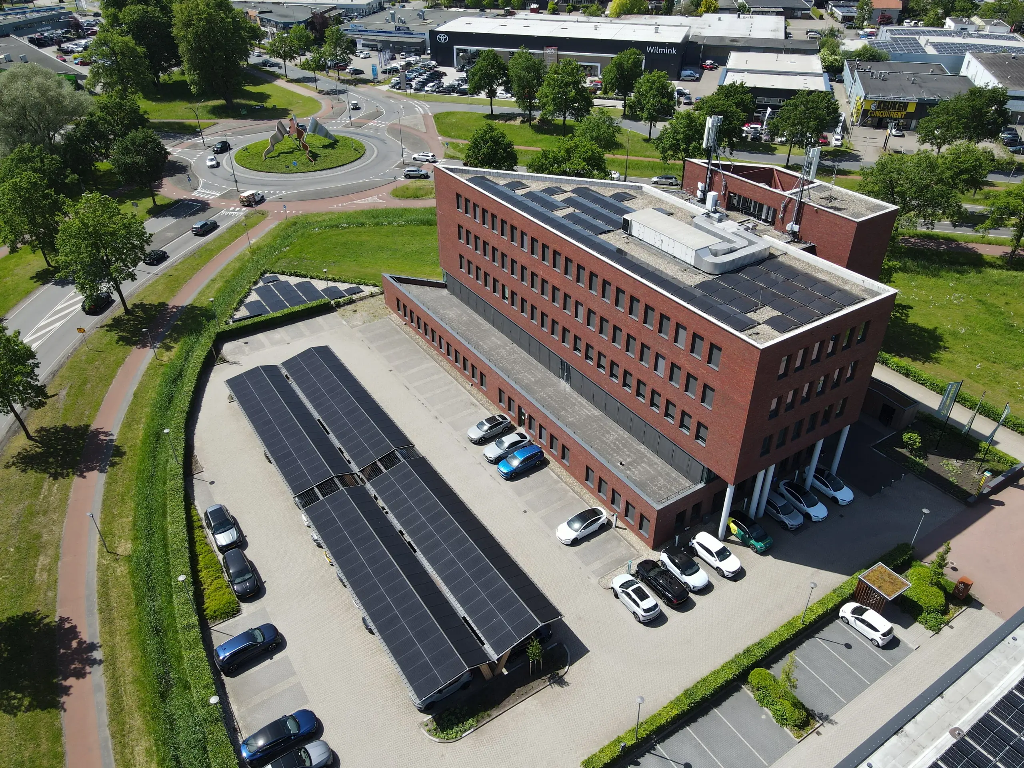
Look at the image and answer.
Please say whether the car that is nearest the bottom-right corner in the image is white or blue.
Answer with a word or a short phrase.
white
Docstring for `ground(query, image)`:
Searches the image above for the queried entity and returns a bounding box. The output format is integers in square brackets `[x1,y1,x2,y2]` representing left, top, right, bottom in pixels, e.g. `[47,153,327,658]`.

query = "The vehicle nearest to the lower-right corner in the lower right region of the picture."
[836,601,901,655]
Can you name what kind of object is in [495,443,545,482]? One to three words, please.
car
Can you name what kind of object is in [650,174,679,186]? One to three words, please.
vehicle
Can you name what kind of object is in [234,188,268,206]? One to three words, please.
vehicle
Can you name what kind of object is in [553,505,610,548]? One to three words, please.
car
